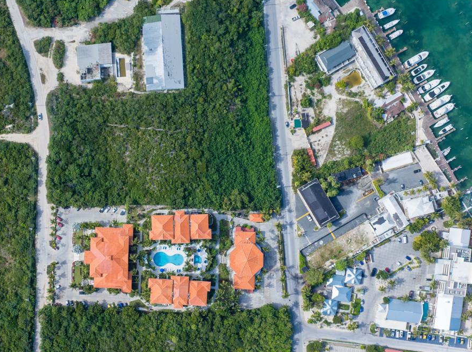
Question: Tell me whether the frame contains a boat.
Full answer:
Yes, a boat is visible in the scene.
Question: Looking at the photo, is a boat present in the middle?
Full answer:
No, there's no boat to be seen in the middle.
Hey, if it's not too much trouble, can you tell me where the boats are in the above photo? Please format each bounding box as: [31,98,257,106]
[418,79,441,94]
[413,70,436,84]
[439,124,453,134]
[428,96,451,110]
[433,117,450,128]
[409,65,426,76]
[389,30,402,40]
[376,8,396,20]
[432,103,454,118]
[382,20,399,30]
[423,82,449,101]
[402,51,429,69]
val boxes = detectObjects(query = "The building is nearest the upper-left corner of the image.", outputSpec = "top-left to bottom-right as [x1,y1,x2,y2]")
[77,43,113,81]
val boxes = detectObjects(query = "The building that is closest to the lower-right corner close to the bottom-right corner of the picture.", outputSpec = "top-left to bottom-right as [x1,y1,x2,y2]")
[429,294,464,331]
